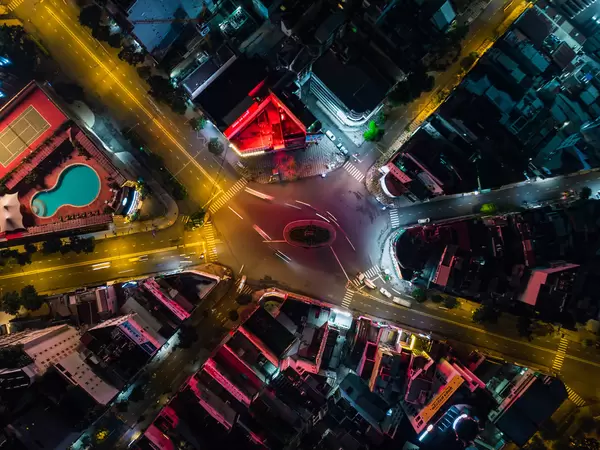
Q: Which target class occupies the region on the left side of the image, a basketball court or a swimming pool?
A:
swimming pool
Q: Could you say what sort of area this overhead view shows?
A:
residential area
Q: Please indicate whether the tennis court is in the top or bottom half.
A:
top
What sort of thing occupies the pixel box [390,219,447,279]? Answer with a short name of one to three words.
building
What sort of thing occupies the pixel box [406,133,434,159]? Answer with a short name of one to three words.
house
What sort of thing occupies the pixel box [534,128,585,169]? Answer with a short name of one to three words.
building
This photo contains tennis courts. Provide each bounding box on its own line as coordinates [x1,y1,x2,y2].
[0,80,72,187]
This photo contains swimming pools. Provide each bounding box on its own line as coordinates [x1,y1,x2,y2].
[29,162,101,220]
